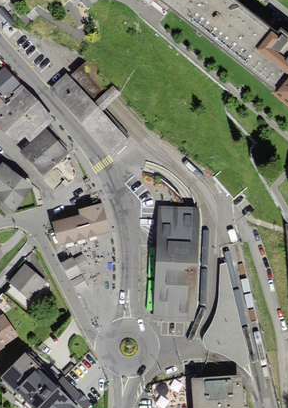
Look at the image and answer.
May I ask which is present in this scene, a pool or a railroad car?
railroad car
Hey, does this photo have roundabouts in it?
Yes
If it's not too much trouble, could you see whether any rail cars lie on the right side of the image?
Yes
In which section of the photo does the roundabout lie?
bottom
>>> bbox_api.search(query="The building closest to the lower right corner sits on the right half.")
[191,376,249,408]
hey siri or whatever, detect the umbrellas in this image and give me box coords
[156,396,170,408]
[156,384,168,396]
[170,379,184,392]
